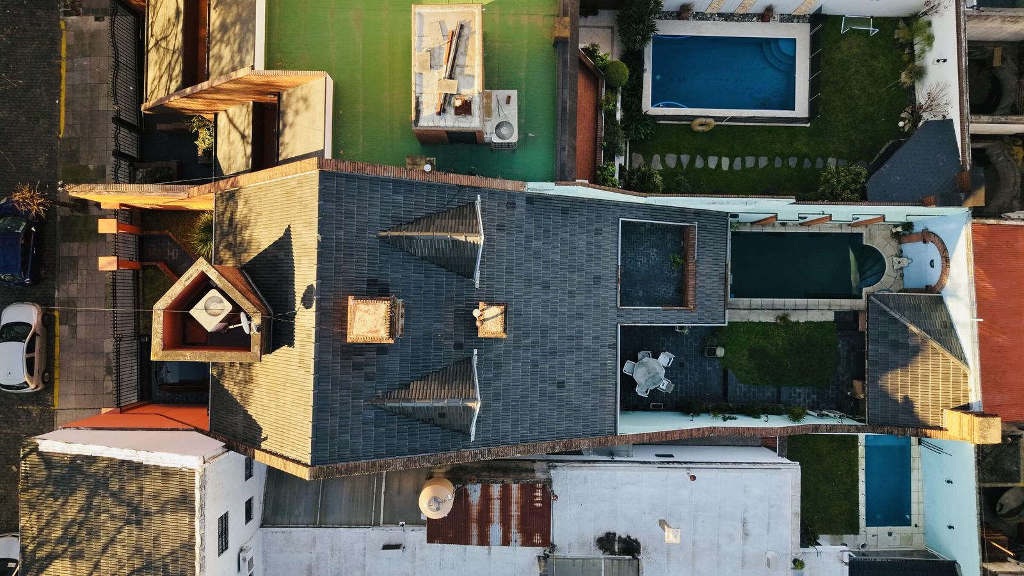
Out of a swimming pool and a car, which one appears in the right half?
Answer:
swimming pool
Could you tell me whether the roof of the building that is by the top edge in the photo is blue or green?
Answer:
green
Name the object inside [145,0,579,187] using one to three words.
building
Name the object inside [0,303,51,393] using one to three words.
car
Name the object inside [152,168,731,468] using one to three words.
house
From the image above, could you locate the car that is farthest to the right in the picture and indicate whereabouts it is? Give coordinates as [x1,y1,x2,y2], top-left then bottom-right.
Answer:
[154,362,210,402]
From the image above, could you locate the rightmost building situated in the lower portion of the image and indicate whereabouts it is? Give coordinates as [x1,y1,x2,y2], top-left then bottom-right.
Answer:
[845,292,958,423]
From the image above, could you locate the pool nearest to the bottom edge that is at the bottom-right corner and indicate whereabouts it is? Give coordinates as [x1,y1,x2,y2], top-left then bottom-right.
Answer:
[818,434,925,549]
